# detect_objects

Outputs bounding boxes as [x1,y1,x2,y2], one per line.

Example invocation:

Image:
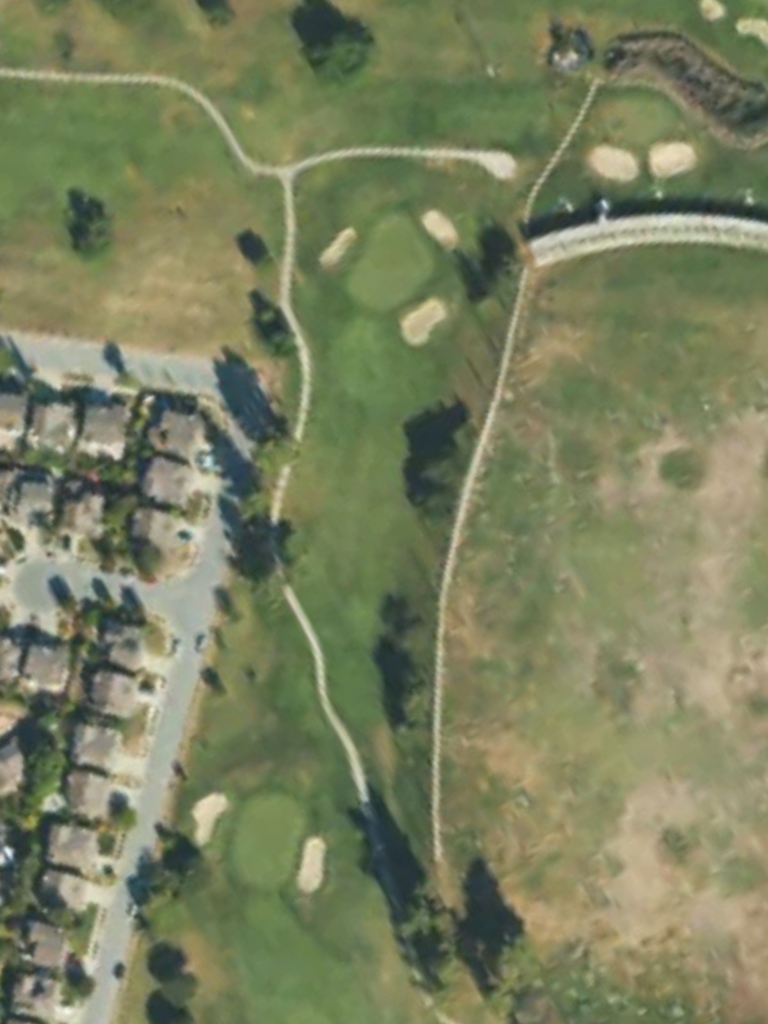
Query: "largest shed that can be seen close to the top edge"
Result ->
[555,50,578,67]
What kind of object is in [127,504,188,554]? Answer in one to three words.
house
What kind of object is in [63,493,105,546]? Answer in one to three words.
house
